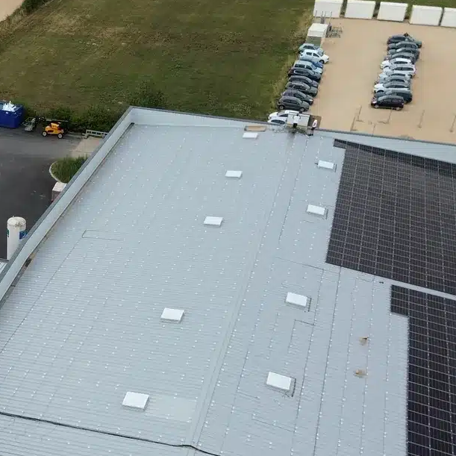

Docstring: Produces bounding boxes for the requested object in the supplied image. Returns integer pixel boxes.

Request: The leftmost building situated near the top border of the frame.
[315,0,345,17]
